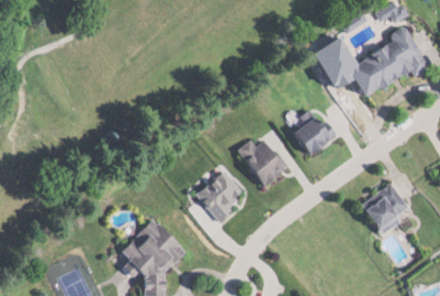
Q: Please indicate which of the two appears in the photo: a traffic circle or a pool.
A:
pool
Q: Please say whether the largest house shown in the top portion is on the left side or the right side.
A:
right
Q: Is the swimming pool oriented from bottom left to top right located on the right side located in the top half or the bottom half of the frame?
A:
top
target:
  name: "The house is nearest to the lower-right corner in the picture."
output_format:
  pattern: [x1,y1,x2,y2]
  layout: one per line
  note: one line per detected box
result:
[362,181,409,234]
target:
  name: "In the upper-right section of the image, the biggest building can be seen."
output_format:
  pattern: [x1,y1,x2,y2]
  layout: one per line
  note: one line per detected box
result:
[316,26,429,96]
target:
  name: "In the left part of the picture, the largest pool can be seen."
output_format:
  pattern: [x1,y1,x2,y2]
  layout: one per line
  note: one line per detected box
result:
[110,209,140,236]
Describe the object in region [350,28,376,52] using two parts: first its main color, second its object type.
blue swimming pool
